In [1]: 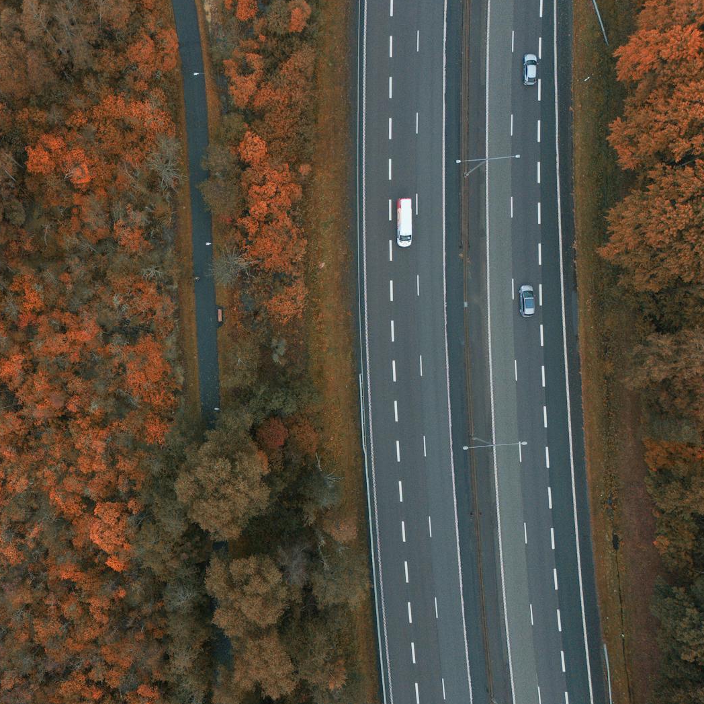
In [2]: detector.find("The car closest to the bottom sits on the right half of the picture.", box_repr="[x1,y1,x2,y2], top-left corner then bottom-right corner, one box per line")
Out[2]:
[520,285,536,317]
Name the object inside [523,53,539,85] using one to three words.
car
